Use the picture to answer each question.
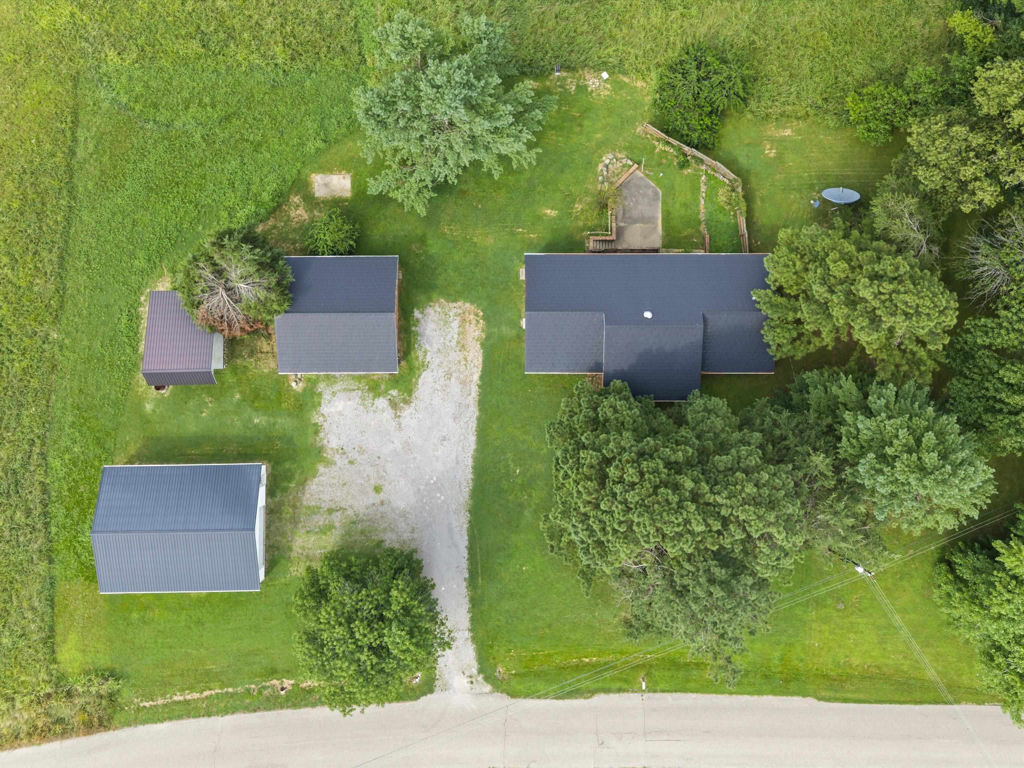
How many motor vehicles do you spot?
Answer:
0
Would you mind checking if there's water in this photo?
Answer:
No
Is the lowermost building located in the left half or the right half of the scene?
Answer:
left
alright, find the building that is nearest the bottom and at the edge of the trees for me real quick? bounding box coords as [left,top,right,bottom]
[90,462,269,595]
